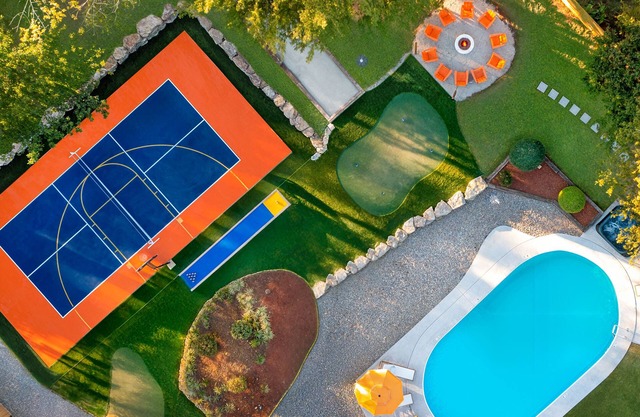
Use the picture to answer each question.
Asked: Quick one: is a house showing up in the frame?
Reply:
No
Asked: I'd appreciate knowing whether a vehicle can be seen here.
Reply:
No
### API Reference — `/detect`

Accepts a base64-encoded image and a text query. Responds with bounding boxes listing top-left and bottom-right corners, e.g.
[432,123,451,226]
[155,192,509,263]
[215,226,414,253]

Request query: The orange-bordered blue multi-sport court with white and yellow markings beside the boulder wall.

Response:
[0,31,291,366]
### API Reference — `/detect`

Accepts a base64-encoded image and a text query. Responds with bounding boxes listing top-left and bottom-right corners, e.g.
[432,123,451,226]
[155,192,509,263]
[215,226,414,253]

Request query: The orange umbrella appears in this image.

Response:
[356,367,403,415]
